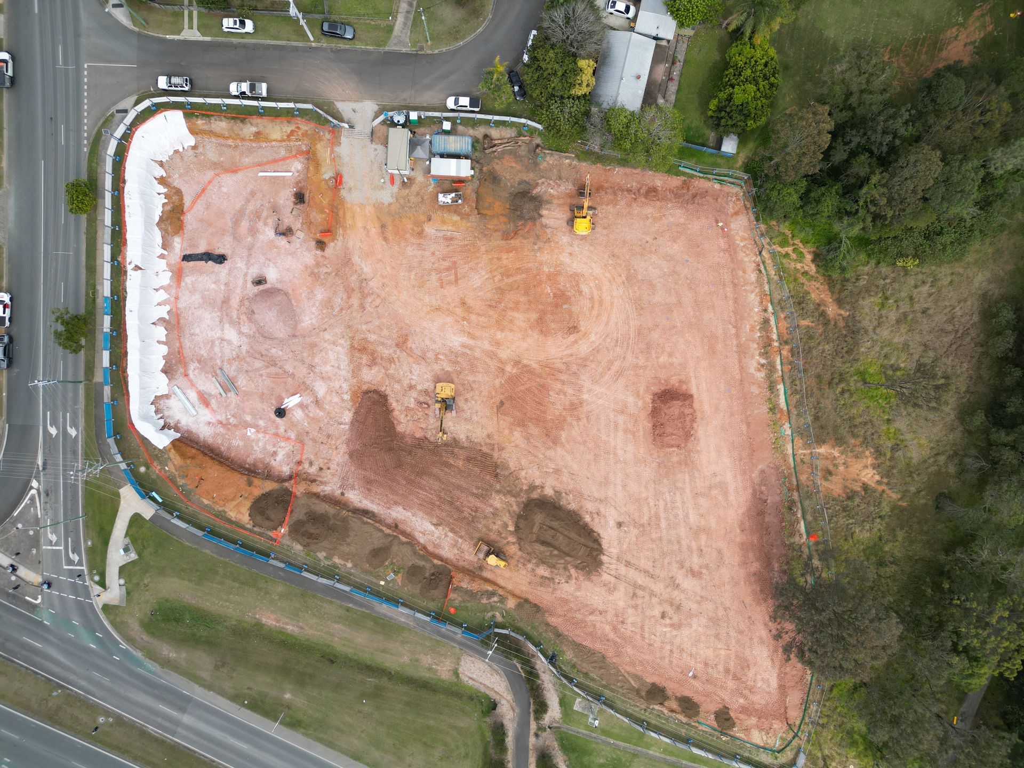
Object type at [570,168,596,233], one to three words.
work vehicle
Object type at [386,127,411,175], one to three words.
building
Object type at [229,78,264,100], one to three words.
truck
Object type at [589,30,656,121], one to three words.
house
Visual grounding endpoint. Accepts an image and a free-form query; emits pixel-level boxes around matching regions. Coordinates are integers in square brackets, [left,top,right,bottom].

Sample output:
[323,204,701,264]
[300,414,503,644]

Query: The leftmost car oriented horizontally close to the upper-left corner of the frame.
[154,72,189,89]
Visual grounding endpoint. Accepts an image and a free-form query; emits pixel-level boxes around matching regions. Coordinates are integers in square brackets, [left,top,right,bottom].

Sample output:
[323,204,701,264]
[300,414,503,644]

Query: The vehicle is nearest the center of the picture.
[435,384,455,449]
